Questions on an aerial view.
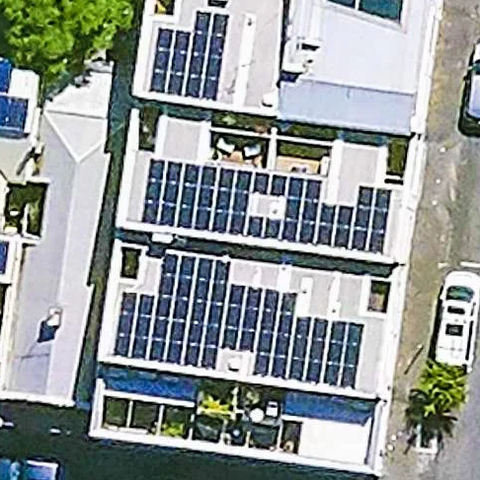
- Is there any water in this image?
No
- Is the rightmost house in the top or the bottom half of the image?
top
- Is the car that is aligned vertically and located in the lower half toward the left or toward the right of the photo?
right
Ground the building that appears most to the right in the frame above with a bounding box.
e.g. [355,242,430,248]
[272,0,441,137]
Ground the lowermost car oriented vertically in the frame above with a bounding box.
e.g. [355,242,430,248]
[433,268,480,369]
